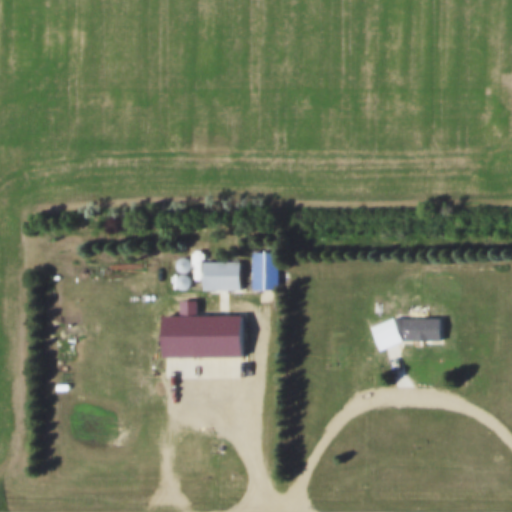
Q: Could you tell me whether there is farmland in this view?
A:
Yes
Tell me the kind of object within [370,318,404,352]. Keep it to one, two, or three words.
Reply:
building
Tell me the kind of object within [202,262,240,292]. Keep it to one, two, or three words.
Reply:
shed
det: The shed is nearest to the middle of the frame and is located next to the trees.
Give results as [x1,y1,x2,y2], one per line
[252,252,279,292]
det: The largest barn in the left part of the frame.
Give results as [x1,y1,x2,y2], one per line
[160,298,244,358]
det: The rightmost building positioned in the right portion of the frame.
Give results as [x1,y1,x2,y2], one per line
[398,307,442,348]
